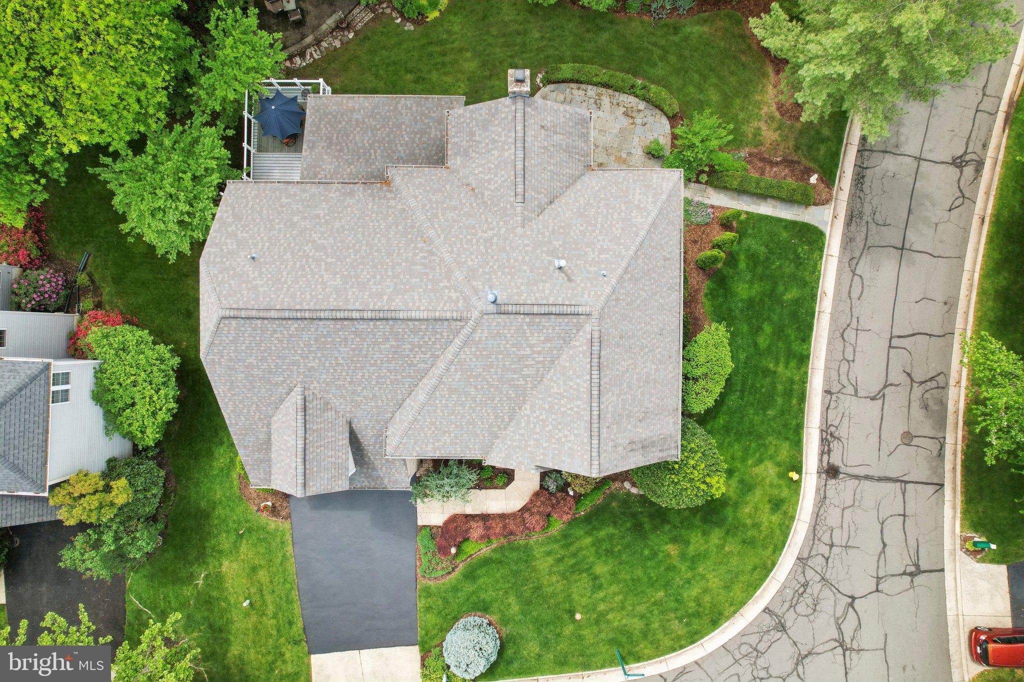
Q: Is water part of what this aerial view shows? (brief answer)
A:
No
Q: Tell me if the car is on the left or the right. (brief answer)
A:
right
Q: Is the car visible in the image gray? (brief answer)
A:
No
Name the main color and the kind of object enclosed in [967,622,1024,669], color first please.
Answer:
red car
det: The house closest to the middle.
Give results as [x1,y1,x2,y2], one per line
[198,65,686,498]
